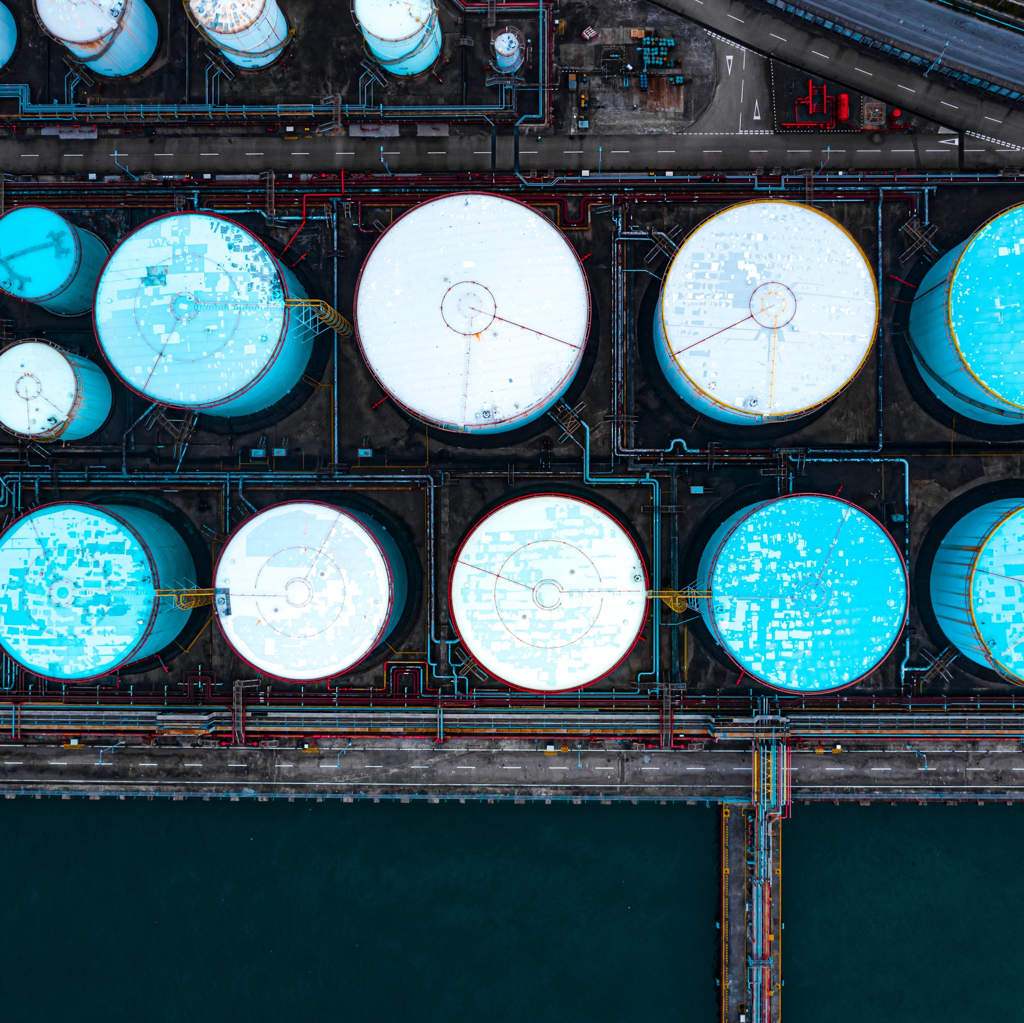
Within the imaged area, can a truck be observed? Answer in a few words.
No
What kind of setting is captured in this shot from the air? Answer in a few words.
industrial area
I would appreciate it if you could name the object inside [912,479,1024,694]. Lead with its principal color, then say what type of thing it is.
blue storage tank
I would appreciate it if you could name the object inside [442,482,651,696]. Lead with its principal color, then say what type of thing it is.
white storage tank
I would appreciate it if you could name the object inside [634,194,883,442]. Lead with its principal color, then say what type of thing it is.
white storage tank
